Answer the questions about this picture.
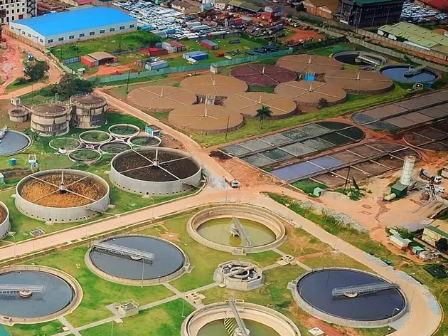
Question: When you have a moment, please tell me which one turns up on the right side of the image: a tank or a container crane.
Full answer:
The feature located on the right side of the image is a tank.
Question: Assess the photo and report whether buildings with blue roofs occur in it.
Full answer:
Yes, there's a building with a blue roof here.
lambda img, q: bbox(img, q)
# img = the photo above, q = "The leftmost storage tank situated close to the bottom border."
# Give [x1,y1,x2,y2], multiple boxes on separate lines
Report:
[0,265,82,332]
